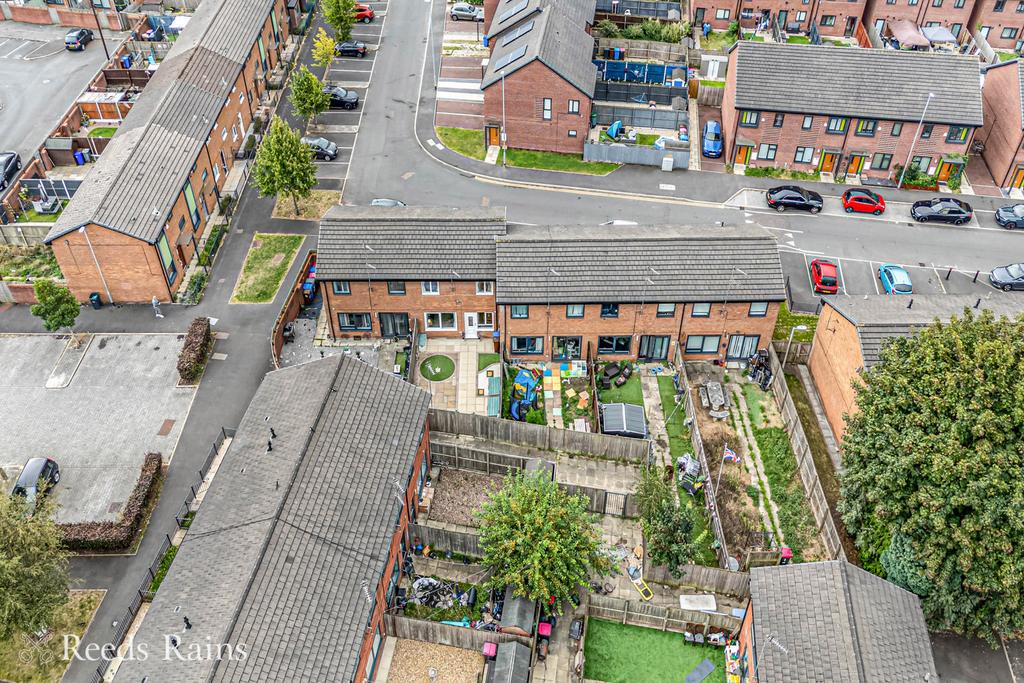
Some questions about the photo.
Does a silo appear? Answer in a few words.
No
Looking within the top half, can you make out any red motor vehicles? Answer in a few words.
Yes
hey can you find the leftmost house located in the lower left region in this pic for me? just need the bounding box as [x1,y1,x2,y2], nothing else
[111,356,433,683]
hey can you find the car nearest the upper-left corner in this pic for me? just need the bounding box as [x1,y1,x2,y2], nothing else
[65,30,94,51]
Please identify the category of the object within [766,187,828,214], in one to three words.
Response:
car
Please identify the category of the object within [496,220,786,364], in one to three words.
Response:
house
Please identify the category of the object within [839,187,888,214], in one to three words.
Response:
car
